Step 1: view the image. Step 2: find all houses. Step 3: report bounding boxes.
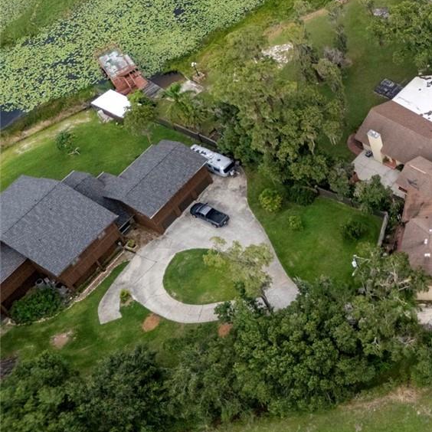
[355,74,432,296]
[0,141,214,315]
